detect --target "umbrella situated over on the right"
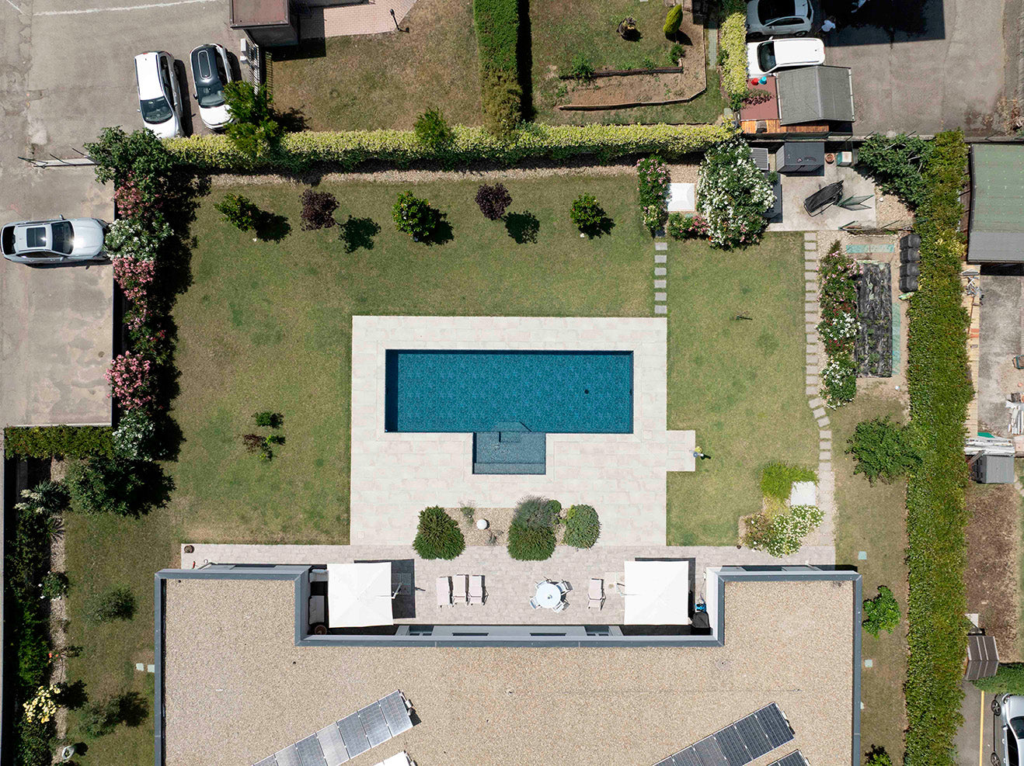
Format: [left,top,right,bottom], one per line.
[604,560,688,625]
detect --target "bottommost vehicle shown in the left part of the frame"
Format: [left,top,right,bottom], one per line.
[0,212,113,266]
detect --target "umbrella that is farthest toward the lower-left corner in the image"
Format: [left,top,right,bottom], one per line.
[327,561,412,627]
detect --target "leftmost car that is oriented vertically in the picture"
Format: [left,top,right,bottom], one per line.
[135,50,193,148]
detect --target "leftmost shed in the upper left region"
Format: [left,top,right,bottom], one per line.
[231,0,299,45]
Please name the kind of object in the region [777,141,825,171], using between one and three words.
shed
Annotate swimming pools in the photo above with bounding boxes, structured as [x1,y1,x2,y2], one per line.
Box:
[358,341,652,539]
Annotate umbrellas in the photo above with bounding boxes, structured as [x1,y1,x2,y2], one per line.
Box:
[604,560,688,625]
[327,561,412,627]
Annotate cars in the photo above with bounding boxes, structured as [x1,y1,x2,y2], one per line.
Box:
[135,50,193,148]
[994,695,1024,766]
[743,30,830,78]
[739,0,823,38]
[185,42,239,134]
[0,212,113,266]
